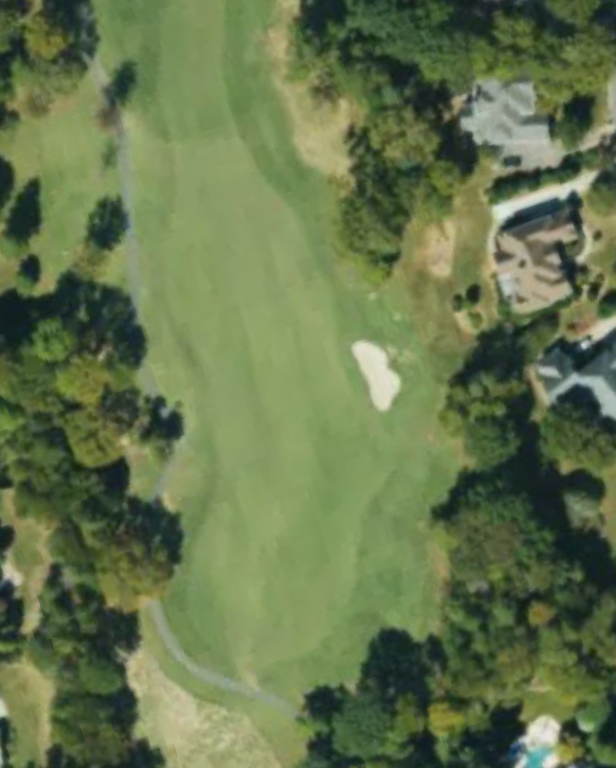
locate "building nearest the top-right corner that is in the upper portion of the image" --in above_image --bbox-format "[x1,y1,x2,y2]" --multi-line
[460,81,552,146]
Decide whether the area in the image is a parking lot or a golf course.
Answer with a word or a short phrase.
golf course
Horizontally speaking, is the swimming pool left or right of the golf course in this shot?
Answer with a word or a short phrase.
on the right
